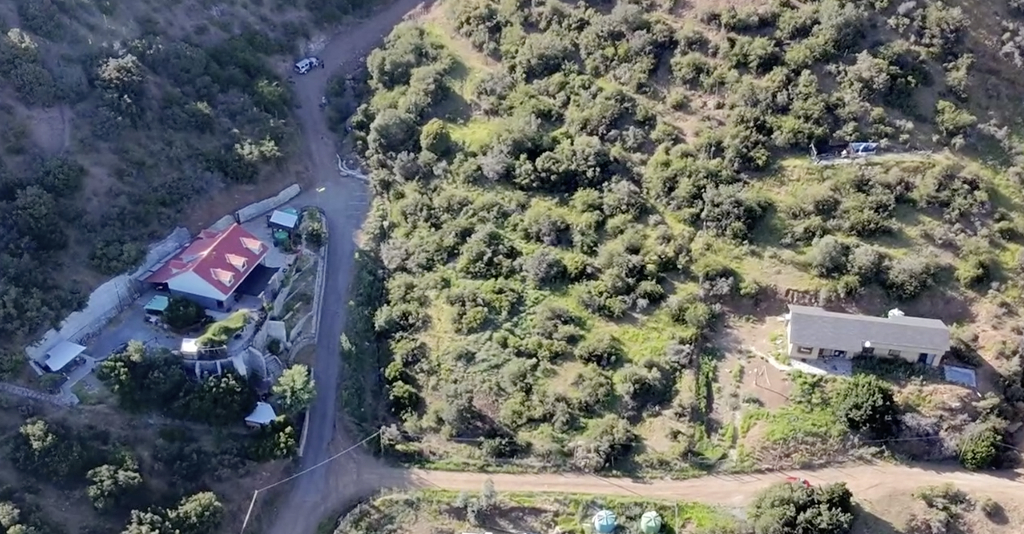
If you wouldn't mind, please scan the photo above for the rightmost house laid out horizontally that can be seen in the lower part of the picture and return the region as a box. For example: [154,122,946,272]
[786,305,951,364]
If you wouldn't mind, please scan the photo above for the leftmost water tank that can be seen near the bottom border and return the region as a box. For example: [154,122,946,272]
[593,511,618,534]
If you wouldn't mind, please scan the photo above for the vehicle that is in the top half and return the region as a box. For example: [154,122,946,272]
[293,58,320,74]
